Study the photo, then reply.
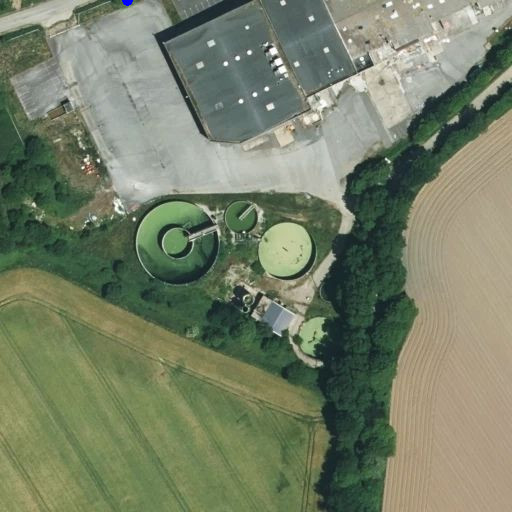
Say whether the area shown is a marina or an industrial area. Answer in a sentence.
This looks like an industrial area.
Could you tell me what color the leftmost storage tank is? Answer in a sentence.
The color of the leftmost storage tank is green.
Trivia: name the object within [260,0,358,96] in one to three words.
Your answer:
building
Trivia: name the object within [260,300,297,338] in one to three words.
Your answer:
house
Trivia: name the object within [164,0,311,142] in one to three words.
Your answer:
building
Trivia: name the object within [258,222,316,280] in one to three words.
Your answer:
storage tank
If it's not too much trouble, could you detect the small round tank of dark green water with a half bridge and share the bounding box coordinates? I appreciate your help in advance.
[224,200,257,232]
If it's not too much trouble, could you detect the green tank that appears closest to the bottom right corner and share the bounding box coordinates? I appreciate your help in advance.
[299,317,338,356]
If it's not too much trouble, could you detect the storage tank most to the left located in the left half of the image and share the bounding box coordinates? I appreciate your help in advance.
[136,201,221,285]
